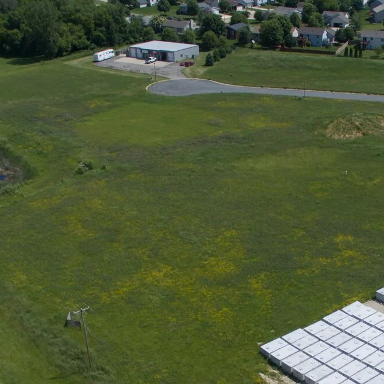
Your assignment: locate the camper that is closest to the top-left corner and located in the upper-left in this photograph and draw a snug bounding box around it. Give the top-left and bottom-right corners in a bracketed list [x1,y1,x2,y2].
[91,48,115,61]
